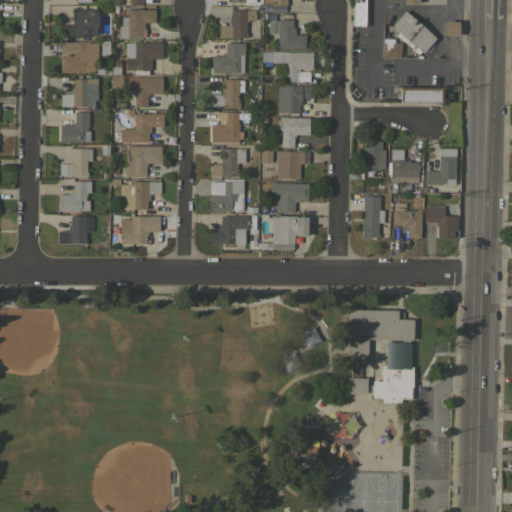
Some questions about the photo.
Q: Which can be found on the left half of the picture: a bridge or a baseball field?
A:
baseball field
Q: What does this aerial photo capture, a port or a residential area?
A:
residential area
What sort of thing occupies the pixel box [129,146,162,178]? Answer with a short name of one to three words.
house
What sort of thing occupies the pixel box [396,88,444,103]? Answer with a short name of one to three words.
building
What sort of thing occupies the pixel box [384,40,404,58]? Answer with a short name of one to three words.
building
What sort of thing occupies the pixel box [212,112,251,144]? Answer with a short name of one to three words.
house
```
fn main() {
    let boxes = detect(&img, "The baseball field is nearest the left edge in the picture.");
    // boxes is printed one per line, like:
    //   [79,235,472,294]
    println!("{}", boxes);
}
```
[0,309,60,376]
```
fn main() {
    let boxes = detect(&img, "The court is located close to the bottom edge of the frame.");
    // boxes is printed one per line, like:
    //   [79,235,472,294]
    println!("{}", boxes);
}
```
[330,472,404,512]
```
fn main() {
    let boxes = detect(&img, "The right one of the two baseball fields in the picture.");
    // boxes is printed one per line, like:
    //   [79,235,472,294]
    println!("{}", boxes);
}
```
[94,443,170,512]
